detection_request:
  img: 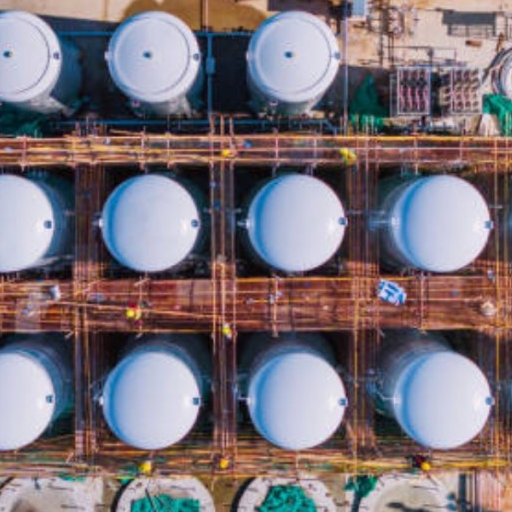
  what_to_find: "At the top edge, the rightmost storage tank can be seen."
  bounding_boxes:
[232,9,340,119]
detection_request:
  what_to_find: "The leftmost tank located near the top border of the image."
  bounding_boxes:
[0,10,83,116]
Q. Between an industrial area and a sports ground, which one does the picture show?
industrial area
